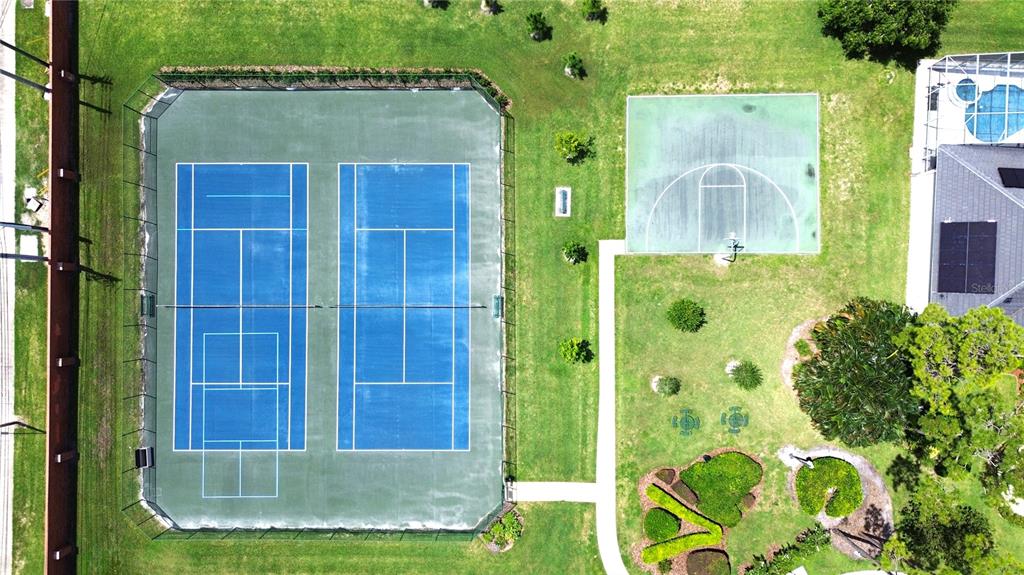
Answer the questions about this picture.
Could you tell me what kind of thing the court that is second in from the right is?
tennis court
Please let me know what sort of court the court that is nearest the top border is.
basketball court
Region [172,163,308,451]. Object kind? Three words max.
tennis court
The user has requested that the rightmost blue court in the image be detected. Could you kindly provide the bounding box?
[336,163,471,451]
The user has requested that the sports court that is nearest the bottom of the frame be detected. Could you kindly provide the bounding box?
[202,333,279,498]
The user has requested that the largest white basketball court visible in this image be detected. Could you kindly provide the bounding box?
[626,94,820,253]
